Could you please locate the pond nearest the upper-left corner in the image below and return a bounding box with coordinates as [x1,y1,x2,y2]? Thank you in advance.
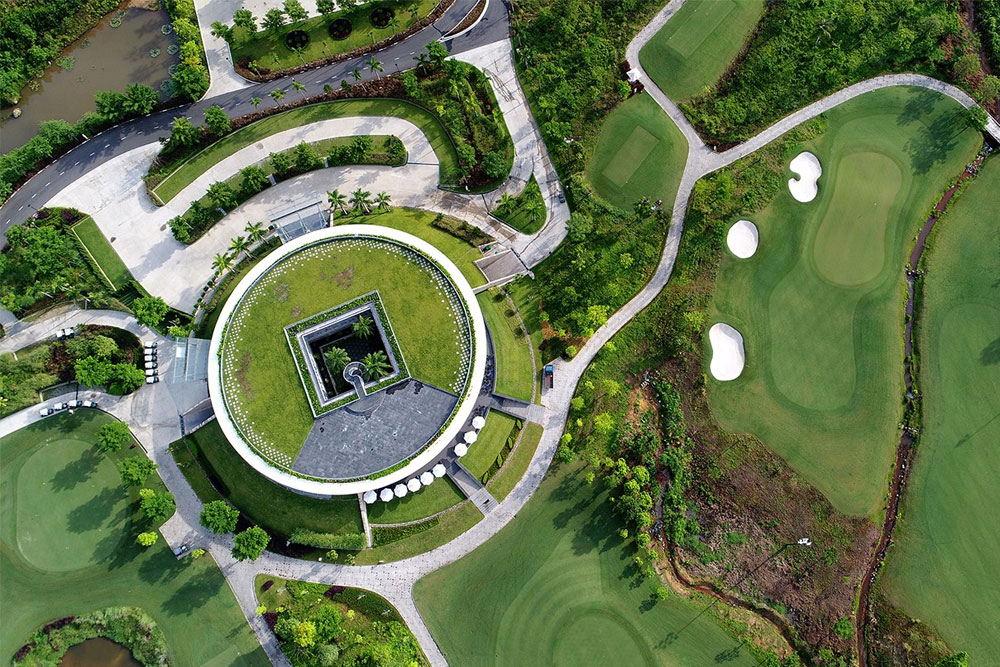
[0,11,180,169]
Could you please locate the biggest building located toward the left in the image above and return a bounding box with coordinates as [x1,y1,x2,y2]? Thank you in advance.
[210,224,486,495]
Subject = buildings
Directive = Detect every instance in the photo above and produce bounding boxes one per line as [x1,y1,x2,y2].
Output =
[627,68,644,89]
[210,224,486,495]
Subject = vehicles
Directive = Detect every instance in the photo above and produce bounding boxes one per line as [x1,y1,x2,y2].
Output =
[57,328,68,342]
[67,400,84,408]
[545,362,556,389]
[145,342,160,349]
[144,349,160,355]
[145,355,160,362]
[65,327,77,340]
[558,189,565,202]
[83,400,101,409]
[40,408,58,417]
[146,369,161,377]
[145,362,160,369]
[146,377,161,384]
[54,402,70,410]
